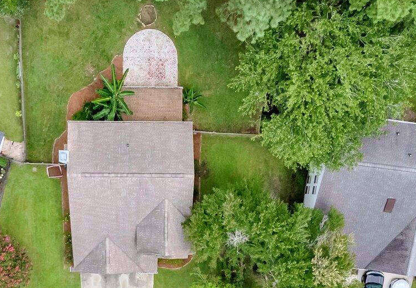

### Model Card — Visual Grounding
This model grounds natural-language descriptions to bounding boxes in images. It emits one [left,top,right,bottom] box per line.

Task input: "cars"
[389,277,410,288]
[362,270,385,288]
